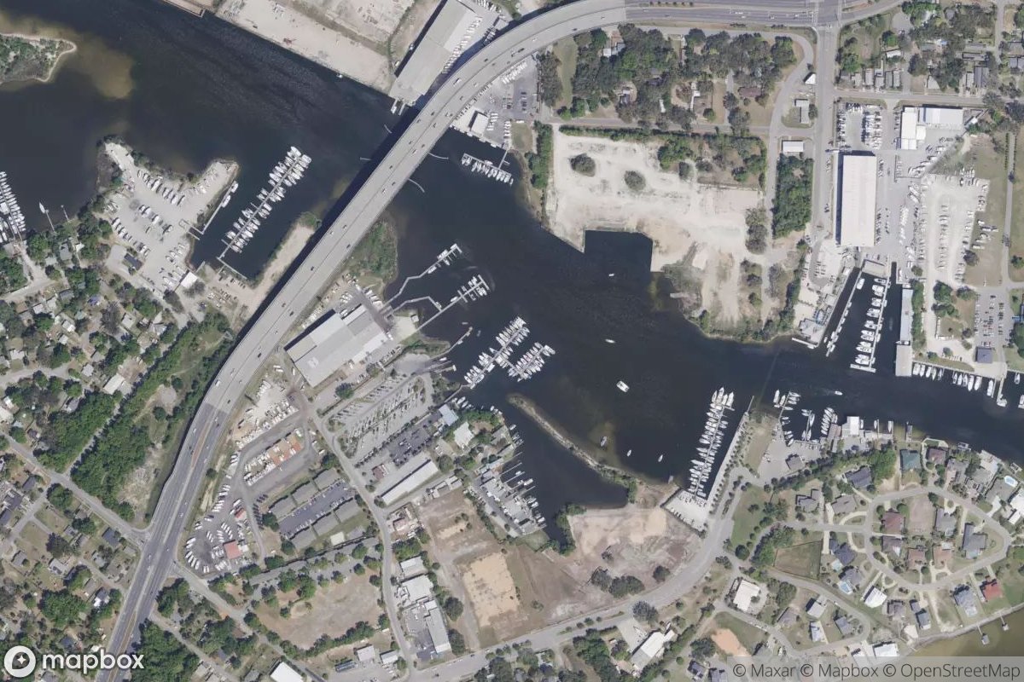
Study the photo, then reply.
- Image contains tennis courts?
No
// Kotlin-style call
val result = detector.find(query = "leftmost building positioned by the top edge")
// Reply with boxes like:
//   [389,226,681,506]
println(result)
[390,0,475,104]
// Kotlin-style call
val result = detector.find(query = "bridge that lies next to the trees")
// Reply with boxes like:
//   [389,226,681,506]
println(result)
[202,0,631,415]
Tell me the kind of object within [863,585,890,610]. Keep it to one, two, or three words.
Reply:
shed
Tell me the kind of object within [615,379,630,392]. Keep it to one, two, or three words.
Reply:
boat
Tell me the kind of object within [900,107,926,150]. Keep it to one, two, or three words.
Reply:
building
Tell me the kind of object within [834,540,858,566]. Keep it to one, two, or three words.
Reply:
house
